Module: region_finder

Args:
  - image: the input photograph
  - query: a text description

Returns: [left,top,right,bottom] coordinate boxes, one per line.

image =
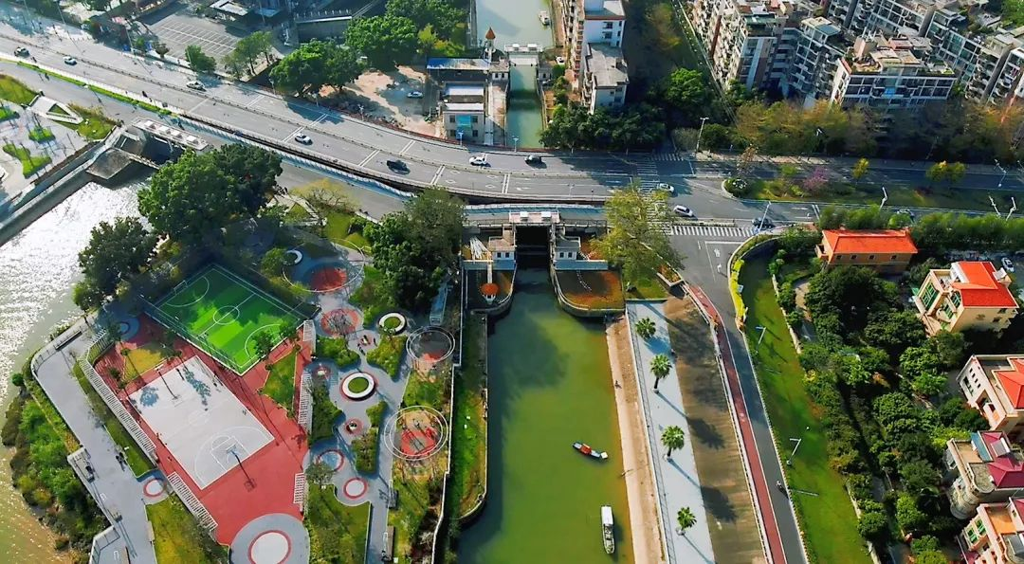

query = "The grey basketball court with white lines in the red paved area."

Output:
[126,355,273,489]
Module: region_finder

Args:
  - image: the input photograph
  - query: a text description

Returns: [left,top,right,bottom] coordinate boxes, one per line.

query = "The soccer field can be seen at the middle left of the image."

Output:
[138,252,306,376]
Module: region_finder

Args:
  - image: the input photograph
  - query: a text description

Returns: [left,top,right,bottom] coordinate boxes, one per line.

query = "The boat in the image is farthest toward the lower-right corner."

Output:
[602,501,615,555]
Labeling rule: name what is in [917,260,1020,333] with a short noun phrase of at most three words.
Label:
house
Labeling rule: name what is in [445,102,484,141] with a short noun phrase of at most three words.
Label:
building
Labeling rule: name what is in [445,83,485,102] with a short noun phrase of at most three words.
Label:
shed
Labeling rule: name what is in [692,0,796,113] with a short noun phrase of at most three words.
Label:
building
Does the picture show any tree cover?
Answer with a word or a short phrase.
Yes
